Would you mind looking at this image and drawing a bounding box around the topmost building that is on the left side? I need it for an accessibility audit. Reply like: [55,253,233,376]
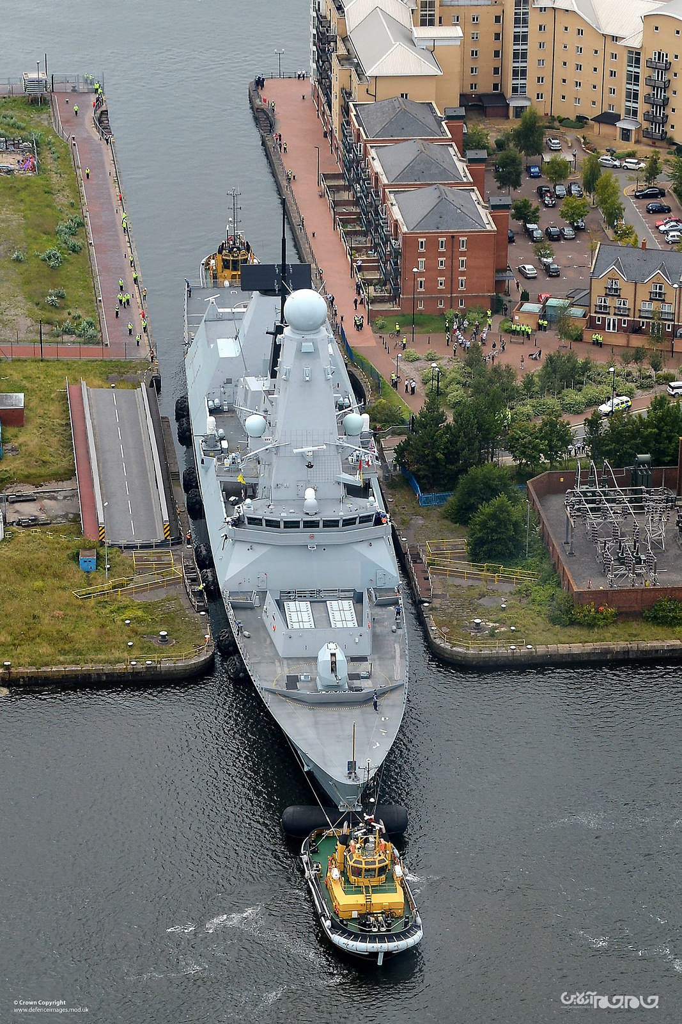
[21,69,50,101]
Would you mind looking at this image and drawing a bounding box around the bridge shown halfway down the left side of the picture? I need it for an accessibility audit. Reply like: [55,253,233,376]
[67,376,184,559]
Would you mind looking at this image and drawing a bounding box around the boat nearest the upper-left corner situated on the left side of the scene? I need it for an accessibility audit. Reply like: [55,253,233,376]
[199,167,271,288]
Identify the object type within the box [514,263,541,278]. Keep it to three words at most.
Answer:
car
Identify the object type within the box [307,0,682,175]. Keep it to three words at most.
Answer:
building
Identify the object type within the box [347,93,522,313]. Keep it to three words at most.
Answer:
building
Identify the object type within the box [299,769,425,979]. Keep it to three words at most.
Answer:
boat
